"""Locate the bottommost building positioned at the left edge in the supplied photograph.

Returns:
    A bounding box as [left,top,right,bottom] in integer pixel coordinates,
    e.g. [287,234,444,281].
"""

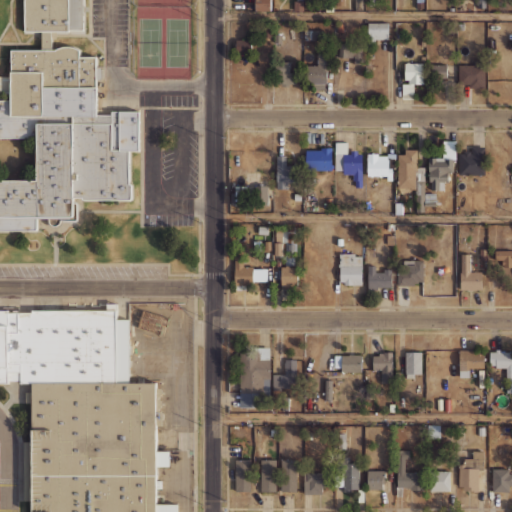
[0,304,178,512]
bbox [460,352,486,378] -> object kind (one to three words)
house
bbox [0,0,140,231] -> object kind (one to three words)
building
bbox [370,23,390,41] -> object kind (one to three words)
house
